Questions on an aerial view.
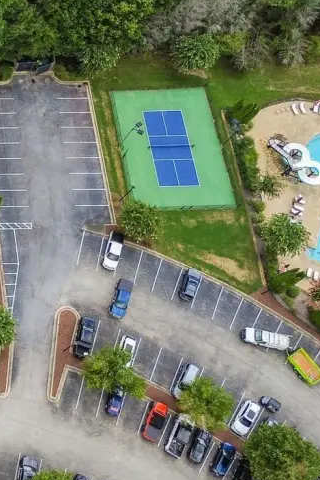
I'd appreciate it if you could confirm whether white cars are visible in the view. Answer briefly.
Yes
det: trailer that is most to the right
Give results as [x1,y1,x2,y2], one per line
[286,348,320,386]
